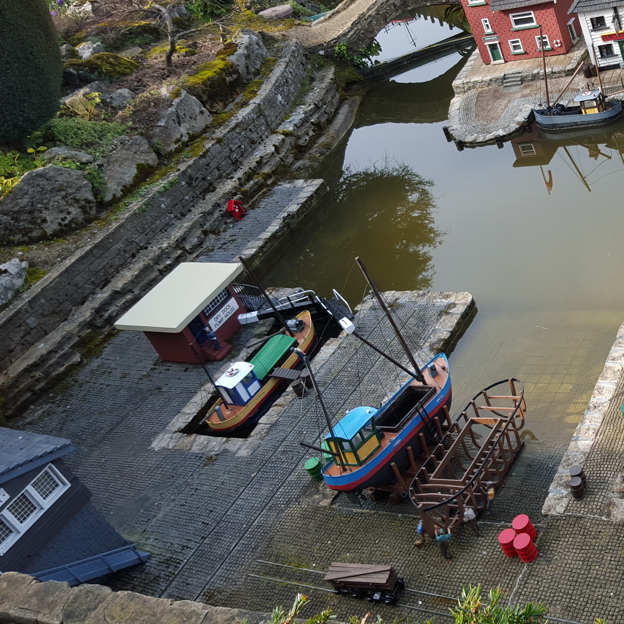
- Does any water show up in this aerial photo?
Yes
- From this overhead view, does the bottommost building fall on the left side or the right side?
left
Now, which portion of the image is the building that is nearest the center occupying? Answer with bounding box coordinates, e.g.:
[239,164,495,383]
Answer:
[100,267,252,360]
